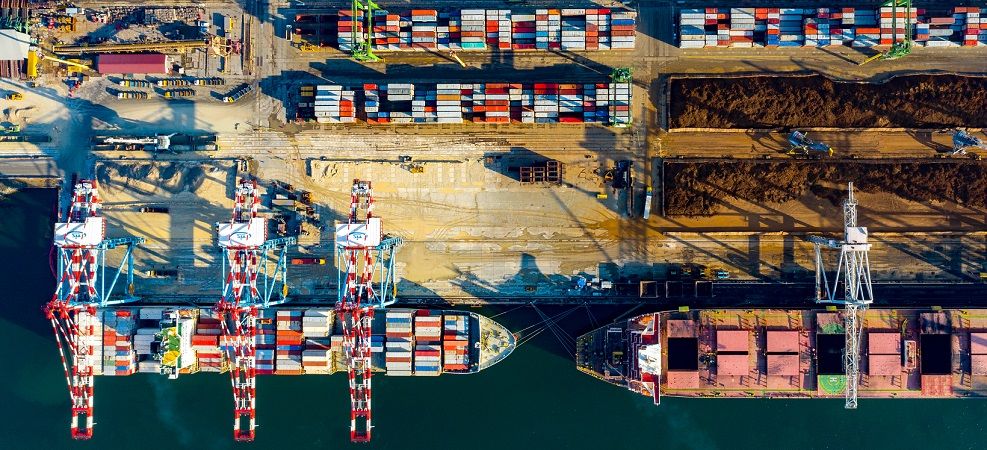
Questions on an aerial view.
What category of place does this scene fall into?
port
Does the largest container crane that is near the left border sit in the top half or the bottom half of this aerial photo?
bottom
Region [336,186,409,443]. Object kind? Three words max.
container crane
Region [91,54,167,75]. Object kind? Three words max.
shed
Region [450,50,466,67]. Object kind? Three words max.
vehicle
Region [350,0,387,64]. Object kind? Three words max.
container crane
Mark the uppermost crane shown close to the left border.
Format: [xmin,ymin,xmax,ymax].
[25,45,89,78]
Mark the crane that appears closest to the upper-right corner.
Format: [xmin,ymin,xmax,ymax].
[866,0,914,64]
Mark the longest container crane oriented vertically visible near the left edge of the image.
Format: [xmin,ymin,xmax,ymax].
[42,185,151,443]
